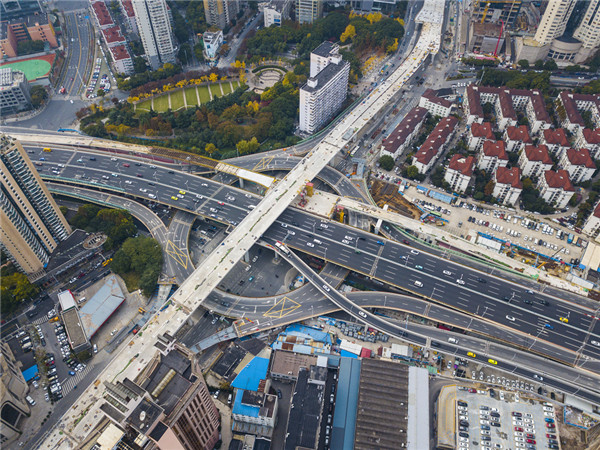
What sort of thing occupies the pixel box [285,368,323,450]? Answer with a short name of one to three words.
shed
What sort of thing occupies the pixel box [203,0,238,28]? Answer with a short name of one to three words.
building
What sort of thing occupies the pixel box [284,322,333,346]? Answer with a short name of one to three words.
shed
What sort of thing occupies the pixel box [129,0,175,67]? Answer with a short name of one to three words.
building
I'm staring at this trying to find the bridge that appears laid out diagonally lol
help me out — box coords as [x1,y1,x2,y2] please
[33,0,448,450]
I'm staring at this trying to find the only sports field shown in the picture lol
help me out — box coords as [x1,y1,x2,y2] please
[12,53,55,79]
